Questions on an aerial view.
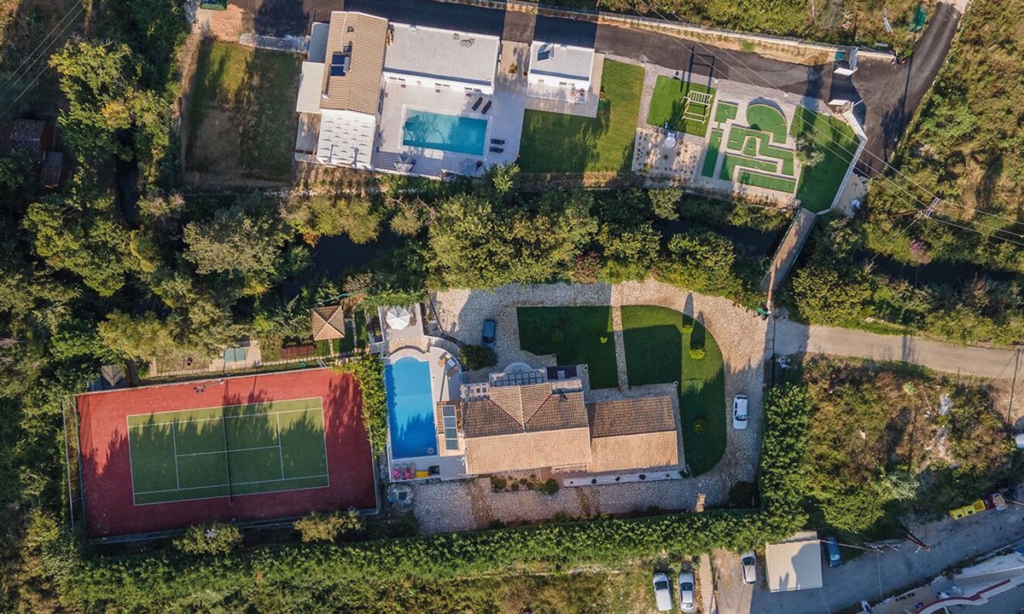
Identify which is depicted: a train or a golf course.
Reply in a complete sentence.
Looking from above, you can make out a golf course.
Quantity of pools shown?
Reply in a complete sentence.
Looking from above, you can make out 2 pools.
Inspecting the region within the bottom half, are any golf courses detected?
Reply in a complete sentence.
No, looking within the bottom half, there is no golf course.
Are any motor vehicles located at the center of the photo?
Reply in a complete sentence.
Yes, you'll find a motor vehicle at the center of the photo.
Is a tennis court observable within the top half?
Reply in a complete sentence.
No, the scene shows no tennis court within the top half.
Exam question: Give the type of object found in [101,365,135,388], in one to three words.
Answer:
shed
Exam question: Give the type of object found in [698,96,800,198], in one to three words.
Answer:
golf course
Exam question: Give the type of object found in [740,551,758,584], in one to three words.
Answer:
car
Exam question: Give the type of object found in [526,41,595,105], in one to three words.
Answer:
building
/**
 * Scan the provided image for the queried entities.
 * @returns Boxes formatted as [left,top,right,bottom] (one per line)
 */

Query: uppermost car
[480,319,496,348]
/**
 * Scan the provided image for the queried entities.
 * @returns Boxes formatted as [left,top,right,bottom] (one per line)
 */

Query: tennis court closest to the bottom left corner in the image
[77,369,376,539]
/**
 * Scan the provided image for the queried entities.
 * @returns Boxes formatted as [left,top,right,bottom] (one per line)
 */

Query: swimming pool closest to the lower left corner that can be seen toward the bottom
[382,338,465,483]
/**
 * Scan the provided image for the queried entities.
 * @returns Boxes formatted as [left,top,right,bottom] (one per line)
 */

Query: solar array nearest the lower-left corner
[442,404,460,451]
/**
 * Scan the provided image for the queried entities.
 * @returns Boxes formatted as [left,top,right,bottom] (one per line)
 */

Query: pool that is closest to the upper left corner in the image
[372,66,527,178]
